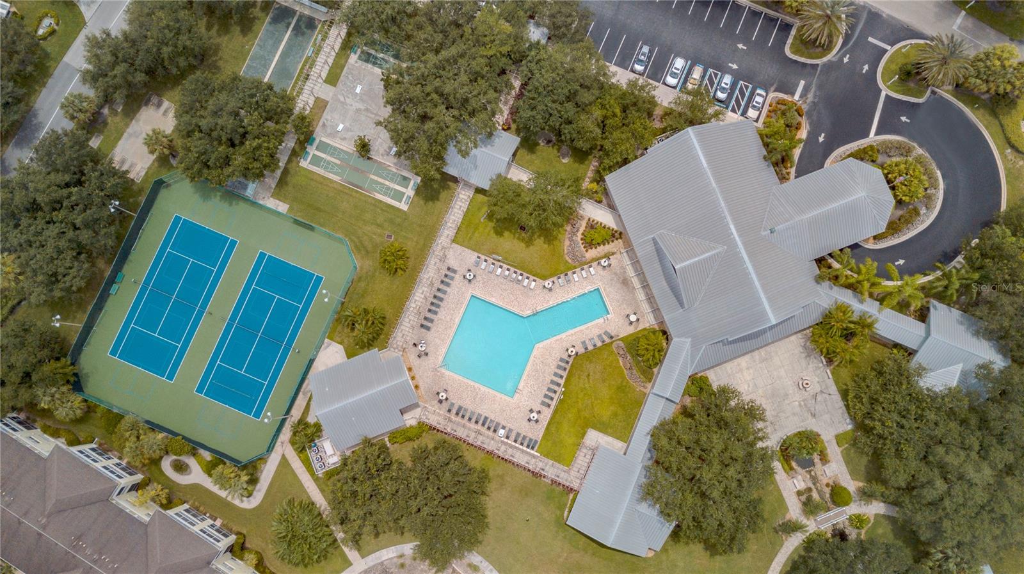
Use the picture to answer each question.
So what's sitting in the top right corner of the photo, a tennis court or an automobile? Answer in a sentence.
It is an automobile that can be seen in the top right corner of the photo.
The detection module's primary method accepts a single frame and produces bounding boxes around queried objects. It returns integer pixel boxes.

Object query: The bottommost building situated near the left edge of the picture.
[0,413,257,574]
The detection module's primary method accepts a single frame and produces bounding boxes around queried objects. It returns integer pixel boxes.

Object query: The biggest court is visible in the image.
[79,177,357,462]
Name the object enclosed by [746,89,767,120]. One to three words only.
car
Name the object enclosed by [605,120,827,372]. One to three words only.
building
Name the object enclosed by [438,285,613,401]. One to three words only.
swimming pool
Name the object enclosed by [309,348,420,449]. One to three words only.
building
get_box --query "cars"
[665,56,685,87]
[746,89,767,120]
[684,64,704,93]
[633,45,651,74]
[714,73,733,102]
